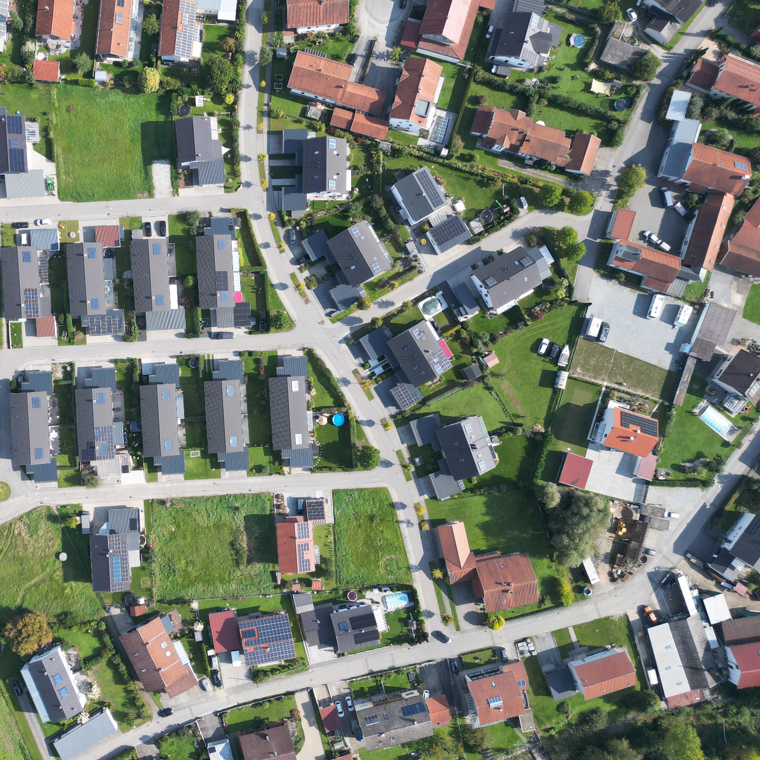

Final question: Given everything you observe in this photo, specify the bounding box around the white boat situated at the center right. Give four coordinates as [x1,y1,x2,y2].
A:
[557,345,569,366]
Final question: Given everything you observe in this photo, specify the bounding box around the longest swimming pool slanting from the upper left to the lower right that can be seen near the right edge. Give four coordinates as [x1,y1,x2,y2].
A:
[696,402,738,439]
